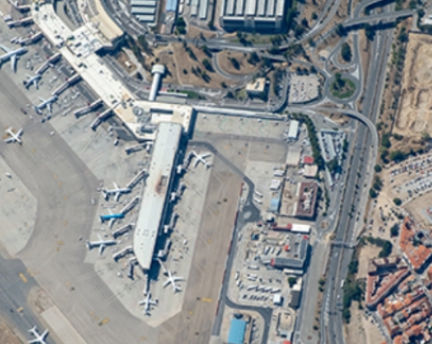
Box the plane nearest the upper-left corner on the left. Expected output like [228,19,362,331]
[0,45,29,66]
